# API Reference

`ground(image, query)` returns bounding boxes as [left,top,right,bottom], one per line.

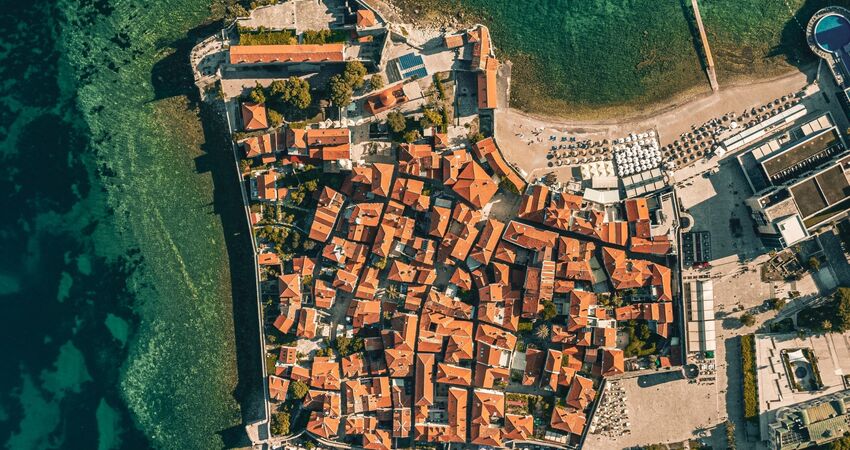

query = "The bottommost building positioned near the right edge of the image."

[761,385,850,450]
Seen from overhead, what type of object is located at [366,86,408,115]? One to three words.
building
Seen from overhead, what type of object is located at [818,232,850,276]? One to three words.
building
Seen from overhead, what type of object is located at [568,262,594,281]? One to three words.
house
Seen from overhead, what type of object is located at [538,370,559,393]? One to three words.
house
